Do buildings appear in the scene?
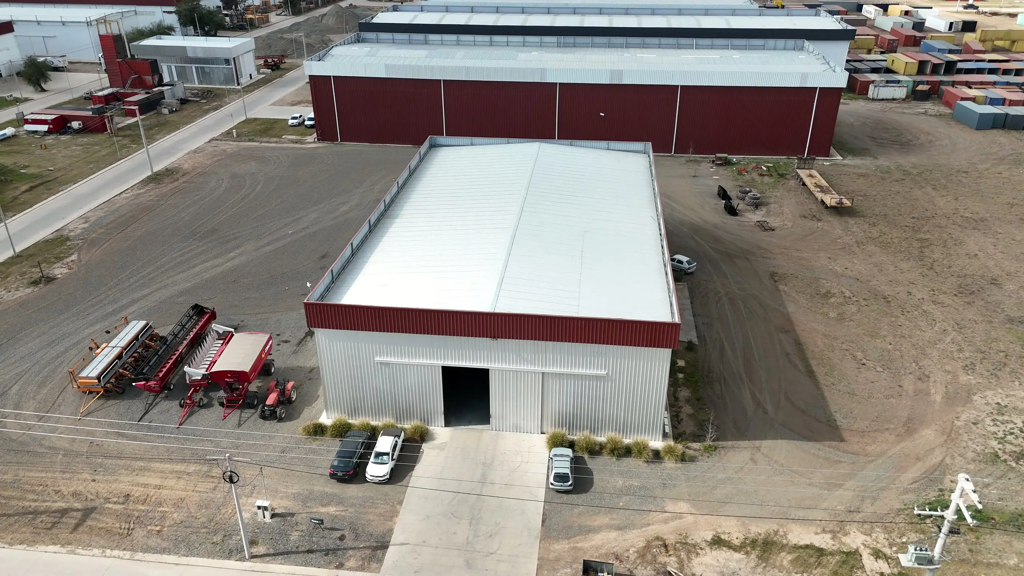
Yes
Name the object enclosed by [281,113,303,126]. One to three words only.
vehicle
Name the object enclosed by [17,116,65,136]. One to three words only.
trailer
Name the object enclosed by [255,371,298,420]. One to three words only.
work vehicle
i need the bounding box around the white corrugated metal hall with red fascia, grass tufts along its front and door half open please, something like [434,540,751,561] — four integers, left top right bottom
[303,136,682,446]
